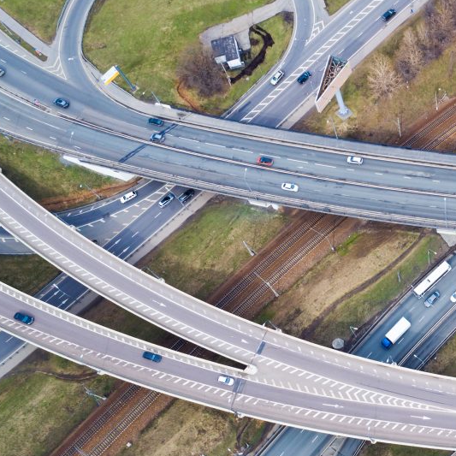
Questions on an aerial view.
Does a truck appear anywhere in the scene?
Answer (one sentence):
Yes, looking at the shot, I can spot a truck.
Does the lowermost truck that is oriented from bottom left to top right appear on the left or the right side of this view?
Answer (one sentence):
The lowermost truck that is oriented from bottom left to top right sits on the right side.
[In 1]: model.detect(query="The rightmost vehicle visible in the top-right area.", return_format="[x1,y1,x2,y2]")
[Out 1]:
[381,9,397,21]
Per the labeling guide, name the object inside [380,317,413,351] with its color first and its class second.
white truck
